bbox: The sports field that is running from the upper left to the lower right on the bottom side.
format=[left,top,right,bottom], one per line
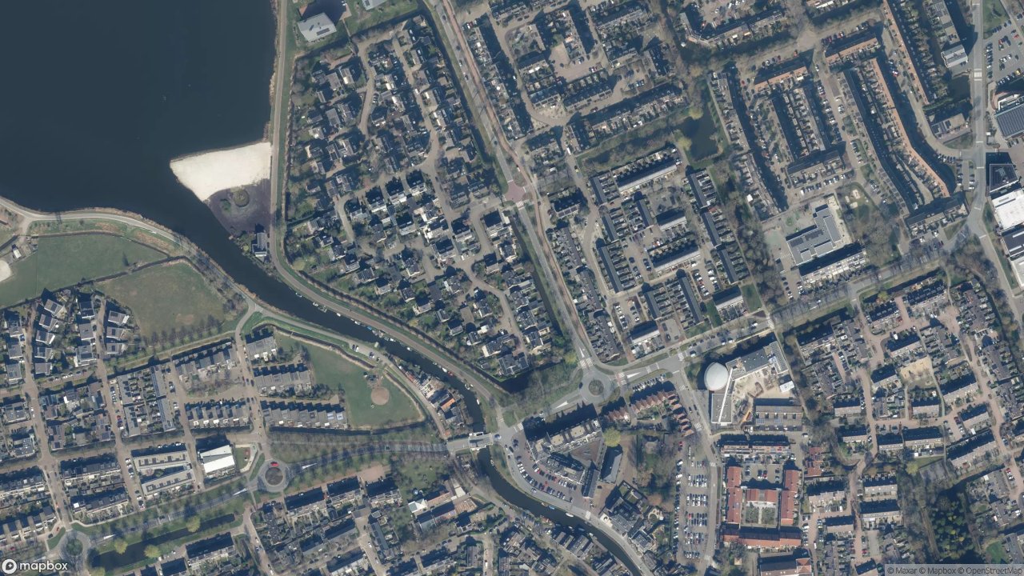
[280,332,421,428]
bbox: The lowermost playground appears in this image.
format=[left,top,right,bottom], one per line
[900,357,934,389]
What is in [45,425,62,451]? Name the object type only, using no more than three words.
house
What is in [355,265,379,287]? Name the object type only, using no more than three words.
house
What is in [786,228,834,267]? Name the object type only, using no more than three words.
building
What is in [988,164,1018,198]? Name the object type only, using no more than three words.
building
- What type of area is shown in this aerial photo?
residential area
